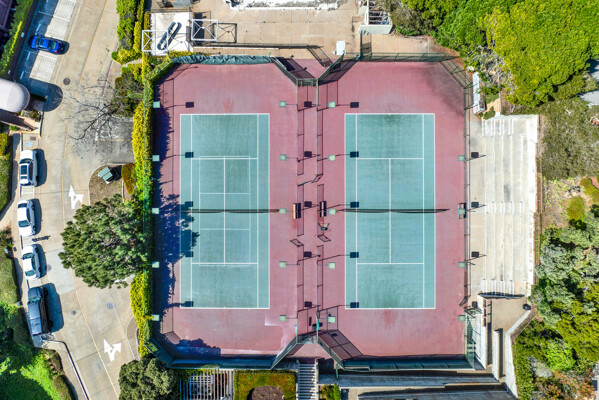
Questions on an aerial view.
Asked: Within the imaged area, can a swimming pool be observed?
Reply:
No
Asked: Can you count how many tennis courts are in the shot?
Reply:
2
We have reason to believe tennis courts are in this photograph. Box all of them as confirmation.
[153,64,297,358]
[316,62,466,357]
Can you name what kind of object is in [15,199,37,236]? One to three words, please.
car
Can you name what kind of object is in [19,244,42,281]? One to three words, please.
car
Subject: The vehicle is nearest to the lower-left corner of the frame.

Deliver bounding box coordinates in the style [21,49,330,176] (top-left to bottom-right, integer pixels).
[26,288,52,335]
